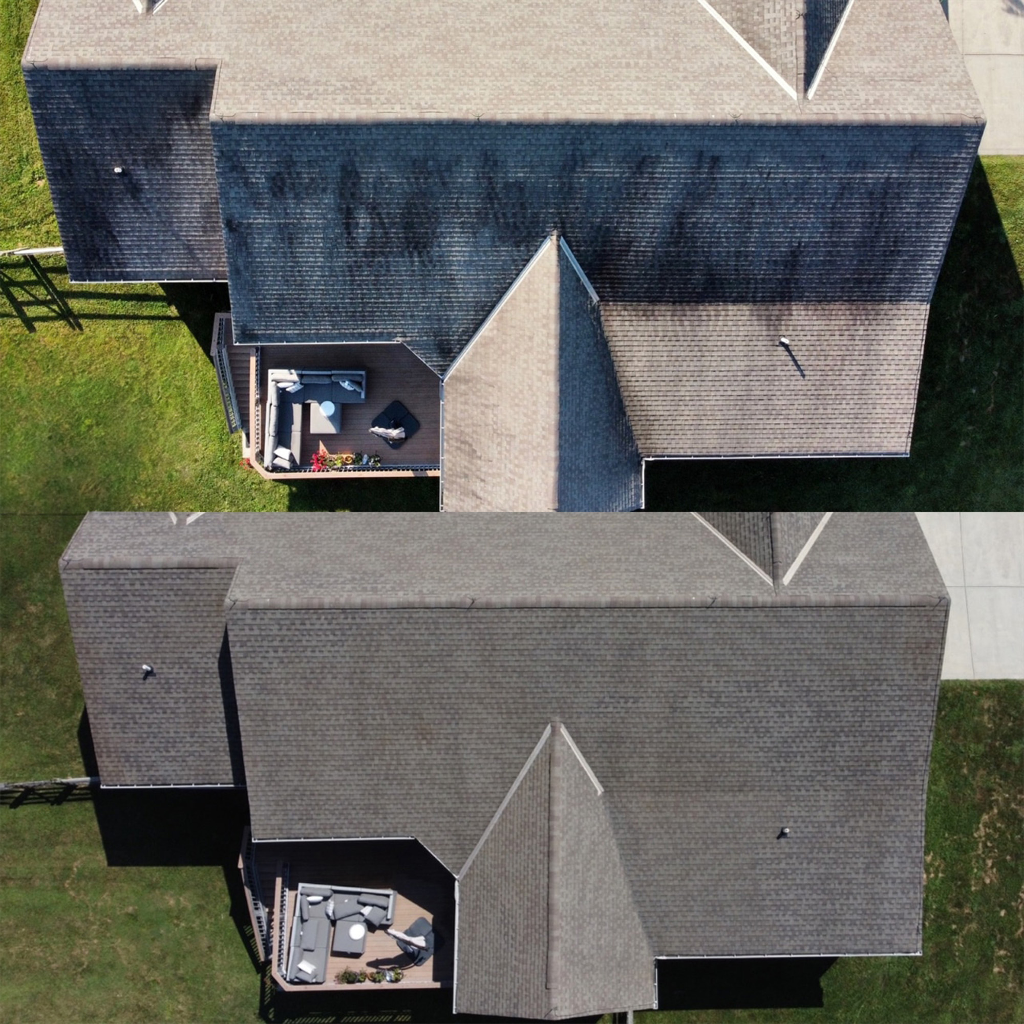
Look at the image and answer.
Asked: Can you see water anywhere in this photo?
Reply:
No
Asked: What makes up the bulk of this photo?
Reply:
buildings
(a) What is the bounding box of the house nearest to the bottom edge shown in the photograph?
[61,511,949,1021]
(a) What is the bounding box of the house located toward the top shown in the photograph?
[23,0,986,512]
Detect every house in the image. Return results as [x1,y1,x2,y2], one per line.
[61,511,949,1021]
[23,0,986,512]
